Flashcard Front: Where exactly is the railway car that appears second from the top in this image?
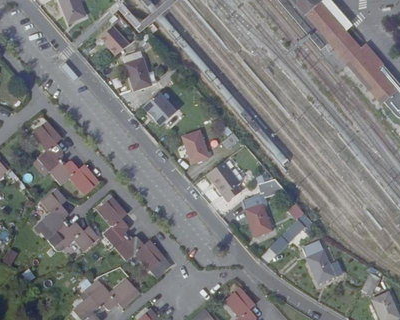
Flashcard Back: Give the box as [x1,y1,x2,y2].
[176,37,218,84]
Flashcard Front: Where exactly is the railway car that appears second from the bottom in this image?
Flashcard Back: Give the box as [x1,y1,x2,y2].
[213,80,252,124]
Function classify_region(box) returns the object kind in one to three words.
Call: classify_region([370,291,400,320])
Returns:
house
